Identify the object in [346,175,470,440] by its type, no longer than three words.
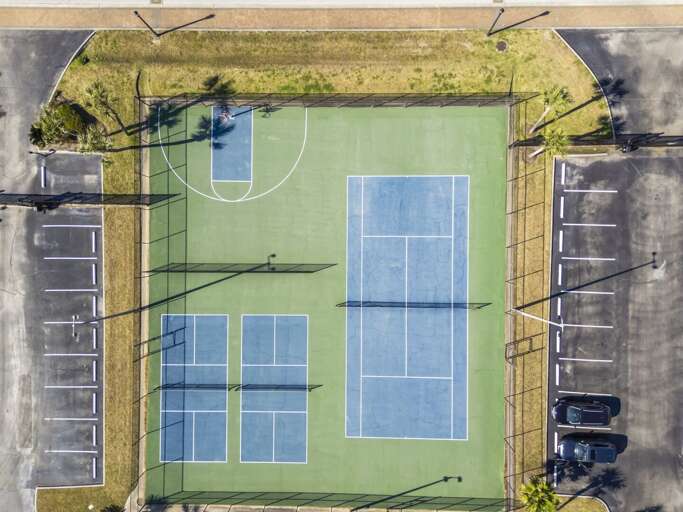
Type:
tennis court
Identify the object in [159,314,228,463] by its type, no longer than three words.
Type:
sports court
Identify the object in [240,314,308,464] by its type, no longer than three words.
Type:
sports court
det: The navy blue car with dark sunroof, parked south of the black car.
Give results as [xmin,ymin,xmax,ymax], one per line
[559,439,618,468]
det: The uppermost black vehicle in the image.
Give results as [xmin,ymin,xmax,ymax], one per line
[553,402,612,430]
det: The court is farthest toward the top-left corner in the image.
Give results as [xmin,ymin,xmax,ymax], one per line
[159,107,306,202]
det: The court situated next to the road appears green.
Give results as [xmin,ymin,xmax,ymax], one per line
[145,105,506,509]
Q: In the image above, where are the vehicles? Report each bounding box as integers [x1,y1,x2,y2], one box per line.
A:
[559,439,618,468]
[553,402,612,430]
